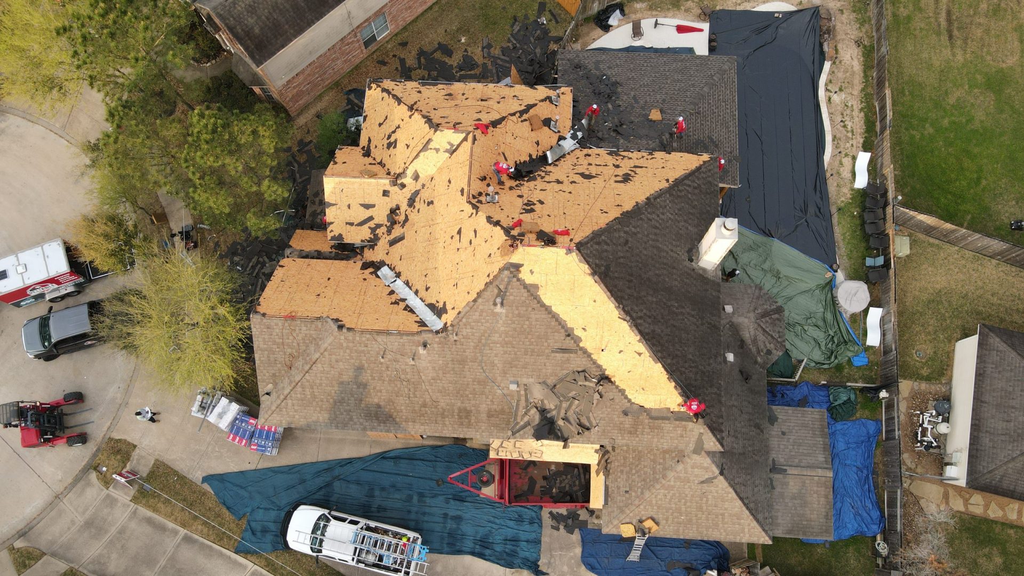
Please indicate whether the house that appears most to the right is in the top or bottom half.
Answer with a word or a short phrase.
bottom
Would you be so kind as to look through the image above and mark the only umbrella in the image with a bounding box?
[654,19,704,32]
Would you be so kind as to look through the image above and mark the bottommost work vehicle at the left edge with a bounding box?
[0,389,95,448]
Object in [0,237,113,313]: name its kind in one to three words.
trailer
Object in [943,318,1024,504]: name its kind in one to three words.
house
